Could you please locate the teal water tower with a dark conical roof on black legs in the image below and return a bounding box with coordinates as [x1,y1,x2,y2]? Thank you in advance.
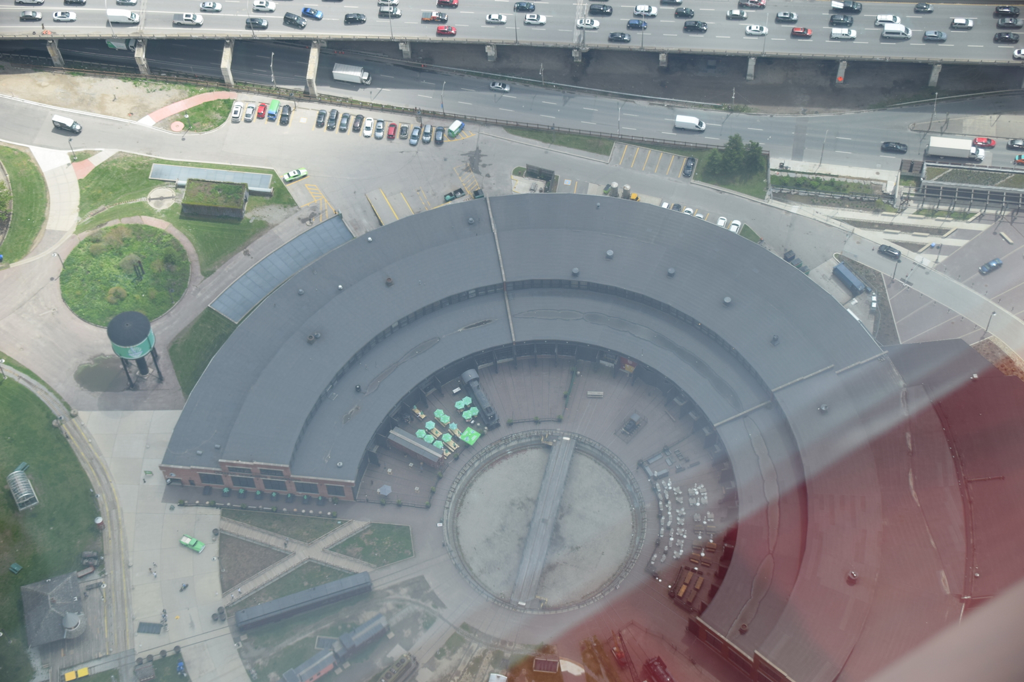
[108,315,164,390]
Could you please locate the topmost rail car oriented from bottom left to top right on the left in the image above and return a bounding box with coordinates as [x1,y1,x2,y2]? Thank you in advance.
[341,607,399,656]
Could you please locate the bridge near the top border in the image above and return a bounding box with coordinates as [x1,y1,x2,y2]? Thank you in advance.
[0,0,1024,98]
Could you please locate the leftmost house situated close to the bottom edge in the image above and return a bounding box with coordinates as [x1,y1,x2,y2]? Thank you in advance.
[21,571,87,649]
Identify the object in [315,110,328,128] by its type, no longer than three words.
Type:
vehicle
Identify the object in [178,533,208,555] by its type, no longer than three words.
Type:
truck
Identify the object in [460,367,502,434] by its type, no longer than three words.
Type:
rail car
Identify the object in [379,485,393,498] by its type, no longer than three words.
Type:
umbrella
